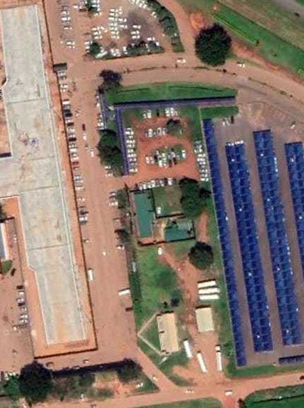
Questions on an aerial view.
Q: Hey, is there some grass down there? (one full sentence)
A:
Yes, there's grass in this view.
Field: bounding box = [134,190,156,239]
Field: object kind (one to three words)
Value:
building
